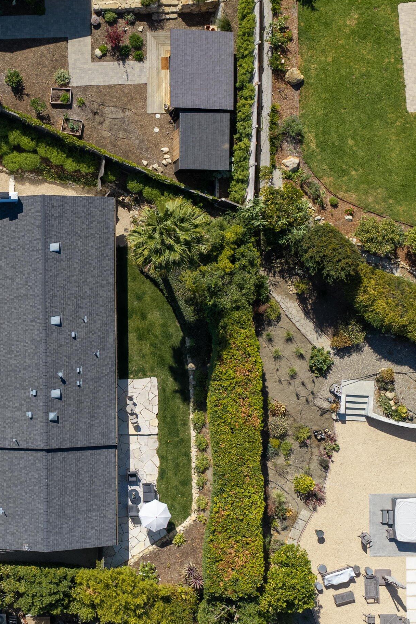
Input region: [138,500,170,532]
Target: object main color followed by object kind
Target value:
white umbrella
